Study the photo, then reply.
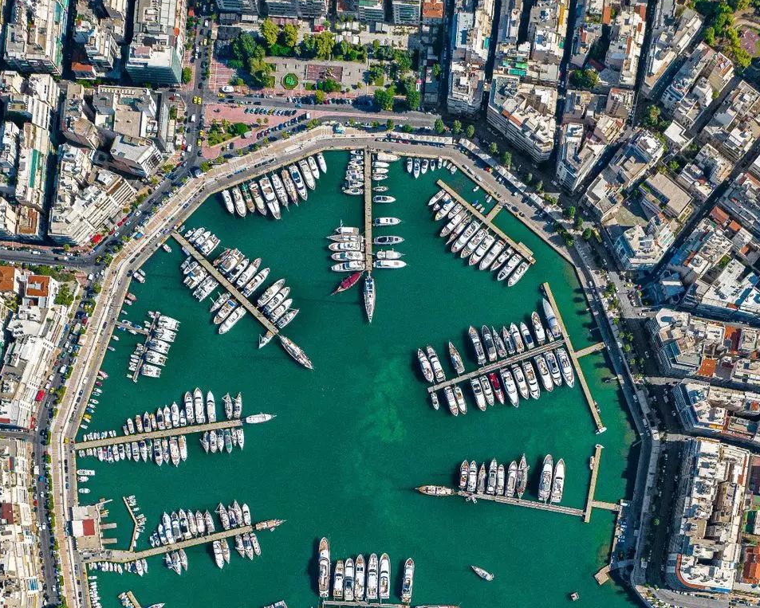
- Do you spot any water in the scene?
Yes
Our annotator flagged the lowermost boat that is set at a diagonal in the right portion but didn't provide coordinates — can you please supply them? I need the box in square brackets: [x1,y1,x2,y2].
[472,565,494,580]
